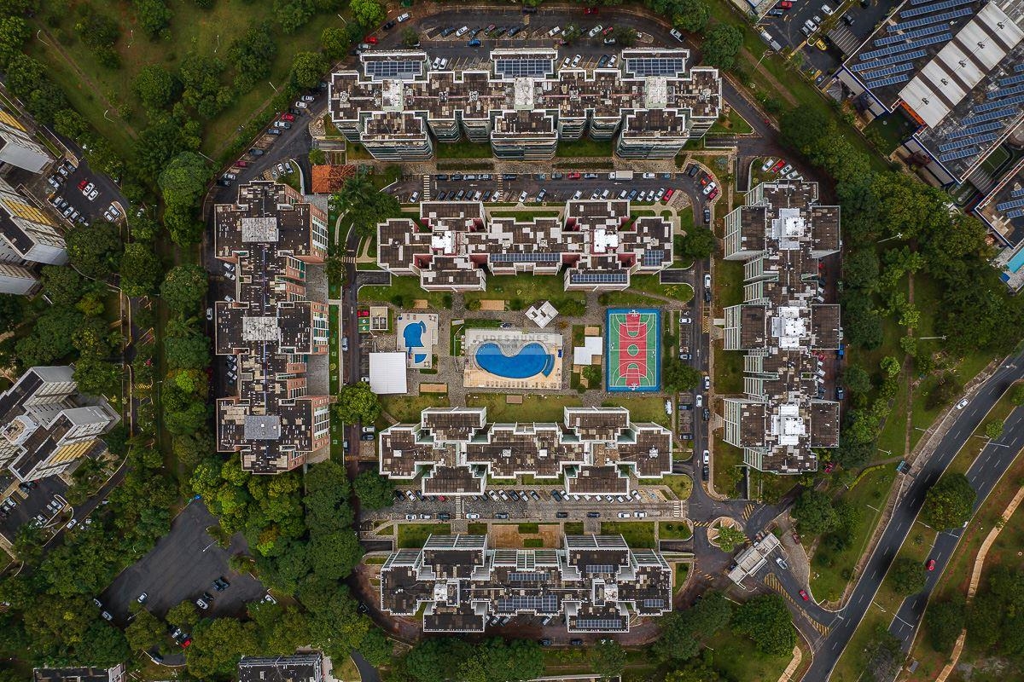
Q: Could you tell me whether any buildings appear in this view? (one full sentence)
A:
Yes, I can see a building in this picture.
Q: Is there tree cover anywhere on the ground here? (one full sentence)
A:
Yes, there is tree cover in the image.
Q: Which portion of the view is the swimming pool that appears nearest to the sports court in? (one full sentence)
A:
Look in the center portion of the view to spot the swimming pool that appears nearest to the sports court.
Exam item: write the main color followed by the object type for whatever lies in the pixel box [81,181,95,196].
white car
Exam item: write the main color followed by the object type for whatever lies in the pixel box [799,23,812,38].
gray vehicle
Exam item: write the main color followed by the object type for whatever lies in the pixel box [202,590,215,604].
black vehicle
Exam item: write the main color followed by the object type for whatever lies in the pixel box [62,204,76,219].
gray car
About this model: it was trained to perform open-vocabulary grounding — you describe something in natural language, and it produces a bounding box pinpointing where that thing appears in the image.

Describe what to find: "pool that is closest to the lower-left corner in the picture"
[397,313,438,369]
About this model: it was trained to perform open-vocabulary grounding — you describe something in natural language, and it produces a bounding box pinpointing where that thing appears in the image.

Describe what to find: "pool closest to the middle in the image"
[464,329,562,389]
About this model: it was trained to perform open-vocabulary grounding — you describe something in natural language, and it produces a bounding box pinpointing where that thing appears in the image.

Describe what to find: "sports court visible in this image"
[607,308,663,392]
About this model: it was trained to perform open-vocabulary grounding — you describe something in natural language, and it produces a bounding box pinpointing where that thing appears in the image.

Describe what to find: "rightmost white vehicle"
[954,398,969,410]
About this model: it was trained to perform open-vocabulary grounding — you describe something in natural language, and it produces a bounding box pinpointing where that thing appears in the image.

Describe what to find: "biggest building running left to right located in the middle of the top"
[328,48,722,166]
